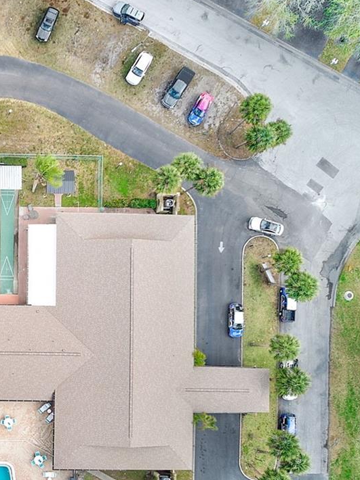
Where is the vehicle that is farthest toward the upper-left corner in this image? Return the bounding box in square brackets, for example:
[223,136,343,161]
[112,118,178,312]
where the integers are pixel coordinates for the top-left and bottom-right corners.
[37,5,57,44]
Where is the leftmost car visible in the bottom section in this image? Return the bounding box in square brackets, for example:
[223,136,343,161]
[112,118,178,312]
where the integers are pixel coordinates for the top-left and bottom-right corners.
[227,302,245,338]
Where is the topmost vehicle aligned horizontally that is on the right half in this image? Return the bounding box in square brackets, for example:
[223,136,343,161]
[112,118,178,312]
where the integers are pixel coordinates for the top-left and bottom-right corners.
[247,217,285,236]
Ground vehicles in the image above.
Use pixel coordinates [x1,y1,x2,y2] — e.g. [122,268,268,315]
[278,287,298,324]
[37,5,57,44]
[110,1,147,26]
[187,91,212,127]
[127,50,151,87]
[247,217,285,236]
[163,64,194,109]
[278,411,298,441]
[227,302,245,338]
